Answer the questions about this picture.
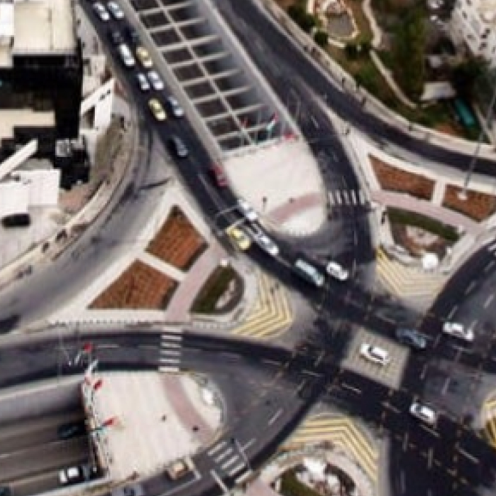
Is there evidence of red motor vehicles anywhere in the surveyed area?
Yes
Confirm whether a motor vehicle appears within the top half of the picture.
Yes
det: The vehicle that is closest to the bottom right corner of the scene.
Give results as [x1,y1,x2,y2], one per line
[407,398,441,427]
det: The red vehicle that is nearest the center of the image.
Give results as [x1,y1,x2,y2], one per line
[207,163,231,188]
